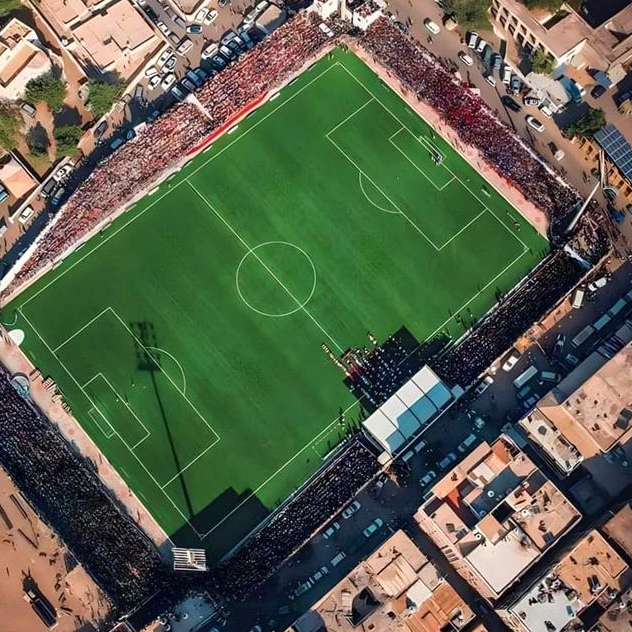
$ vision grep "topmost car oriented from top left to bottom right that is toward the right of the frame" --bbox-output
[424,18,442,34]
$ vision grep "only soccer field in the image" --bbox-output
[0,42,554,562]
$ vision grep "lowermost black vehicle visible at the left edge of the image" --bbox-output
[26,585,56,623]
